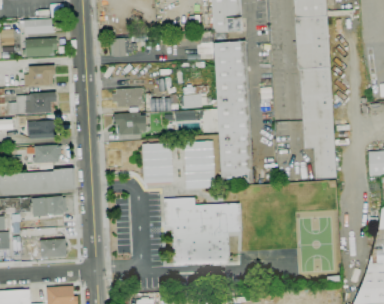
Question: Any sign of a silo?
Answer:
No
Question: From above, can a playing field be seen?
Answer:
Yes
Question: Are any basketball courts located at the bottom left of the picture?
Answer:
No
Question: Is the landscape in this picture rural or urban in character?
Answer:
urban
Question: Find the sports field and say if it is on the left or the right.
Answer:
right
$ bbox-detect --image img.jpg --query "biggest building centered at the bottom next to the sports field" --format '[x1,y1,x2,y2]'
[165,196,240,267]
